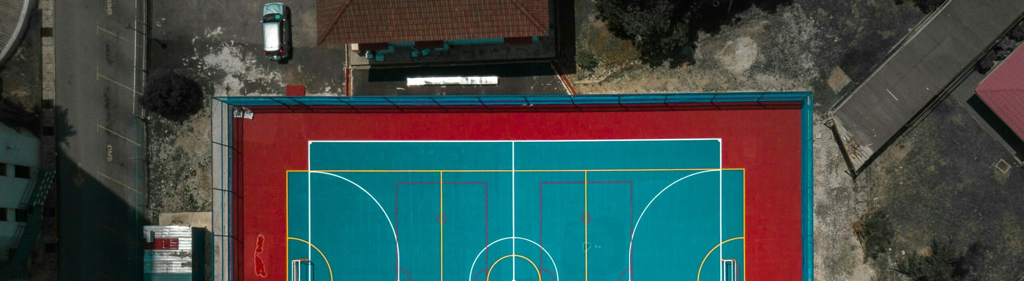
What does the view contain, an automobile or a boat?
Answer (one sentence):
Visible in the photo is an automobile.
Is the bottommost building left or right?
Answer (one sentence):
It is on the left.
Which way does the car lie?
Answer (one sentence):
The car runs up and down in the image.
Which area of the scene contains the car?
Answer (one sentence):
The car sits in the top left section of the image.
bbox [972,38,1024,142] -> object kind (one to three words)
house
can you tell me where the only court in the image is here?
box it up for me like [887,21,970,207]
[212,94,812,281]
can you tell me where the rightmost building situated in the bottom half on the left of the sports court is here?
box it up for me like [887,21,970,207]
[144,226,205,281]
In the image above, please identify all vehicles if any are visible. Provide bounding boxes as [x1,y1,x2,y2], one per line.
[260,4,290,62]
